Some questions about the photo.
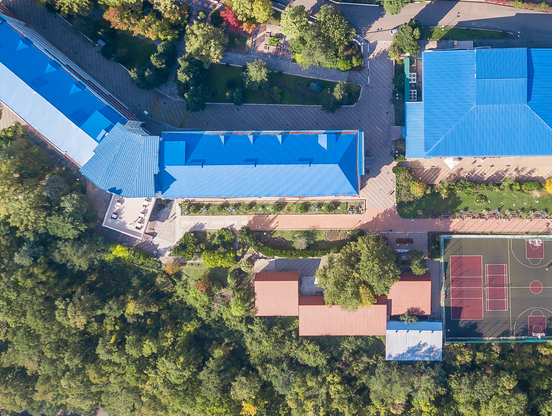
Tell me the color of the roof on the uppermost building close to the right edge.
blue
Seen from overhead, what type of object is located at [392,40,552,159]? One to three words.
building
